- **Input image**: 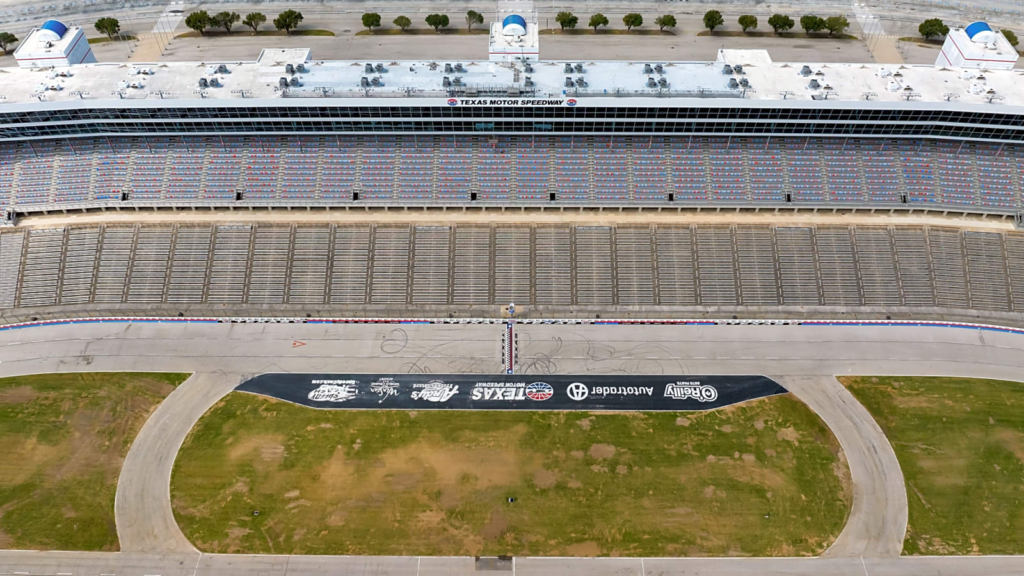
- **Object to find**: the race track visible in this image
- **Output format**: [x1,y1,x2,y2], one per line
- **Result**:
[0,322,1024,381]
